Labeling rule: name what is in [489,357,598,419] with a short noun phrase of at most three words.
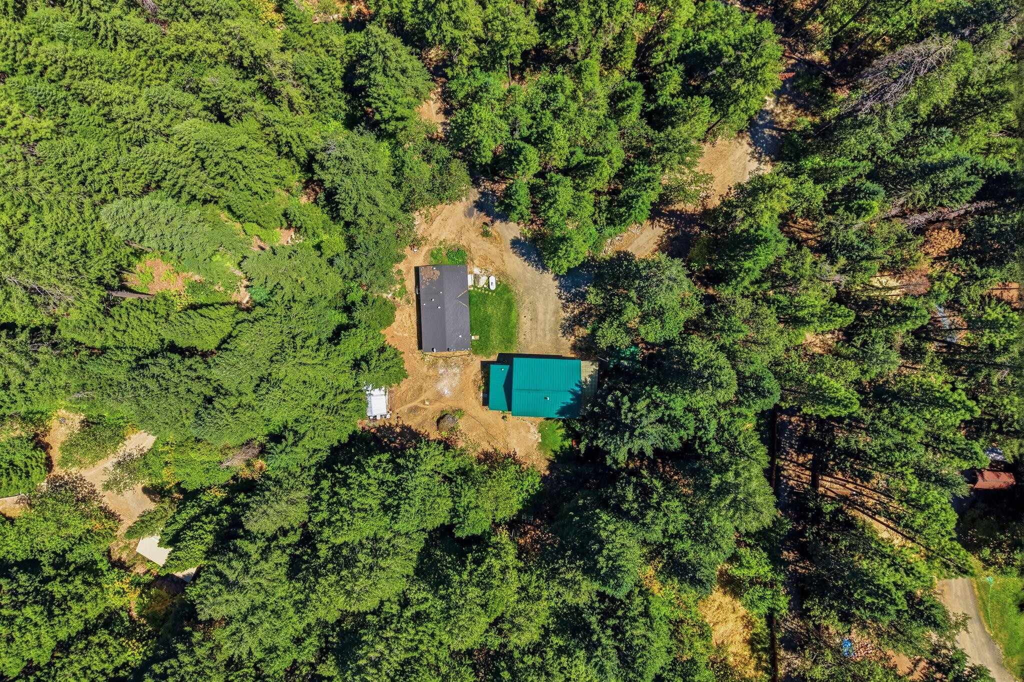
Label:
building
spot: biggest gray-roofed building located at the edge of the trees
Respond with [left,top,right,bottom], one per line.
[419,264,472,353]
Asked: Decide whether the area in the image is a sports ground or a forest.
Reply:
forest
